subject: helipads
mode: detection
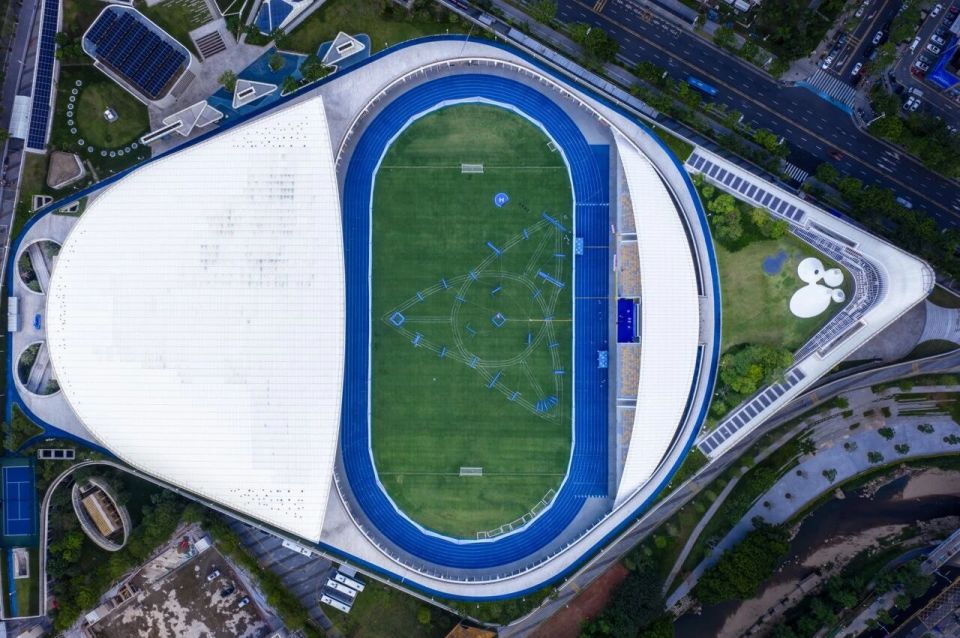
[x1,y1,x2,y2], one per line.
[494,192,509,207]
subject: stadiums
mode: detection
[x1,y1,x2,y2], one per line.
[5,33,724,603]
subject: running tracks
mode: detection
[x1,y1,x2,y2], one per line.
[345,75,609,568]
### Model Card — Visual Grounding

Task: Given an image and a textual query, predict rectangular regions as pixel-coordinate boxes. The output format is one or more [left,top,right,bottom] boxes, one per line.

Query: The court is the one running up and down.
[0,457,40,550]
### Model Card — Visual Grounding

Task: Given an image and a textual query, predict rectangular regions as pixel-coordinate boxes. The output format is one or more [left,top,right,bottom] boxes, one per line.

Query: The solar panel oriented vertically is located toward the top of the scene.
[27,0,58,149]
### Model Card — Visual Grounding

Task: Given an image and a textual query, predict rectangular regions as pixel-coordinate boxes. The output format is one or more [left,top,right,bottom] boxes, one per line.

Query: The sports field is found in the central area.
[368,96,576,543]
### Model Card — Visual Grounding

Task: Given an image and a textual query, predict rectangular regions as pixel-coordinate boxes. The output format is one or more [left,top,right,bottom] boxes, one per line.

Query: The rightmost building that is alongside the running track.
[682,146,938,460]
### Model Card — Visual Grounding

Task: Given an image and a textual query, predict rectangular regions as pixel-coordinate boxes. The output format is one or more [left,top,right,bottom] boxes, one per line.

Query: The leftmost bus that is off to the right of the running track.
[684,76,719,100]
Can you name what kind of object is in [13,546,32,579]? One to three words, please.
building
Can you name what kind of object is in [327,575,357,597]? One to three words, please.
bus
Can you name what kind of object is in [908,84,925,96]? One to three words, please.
vehicle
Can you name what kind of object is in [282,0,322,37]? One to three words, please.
building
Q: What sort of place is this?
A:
sports ground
